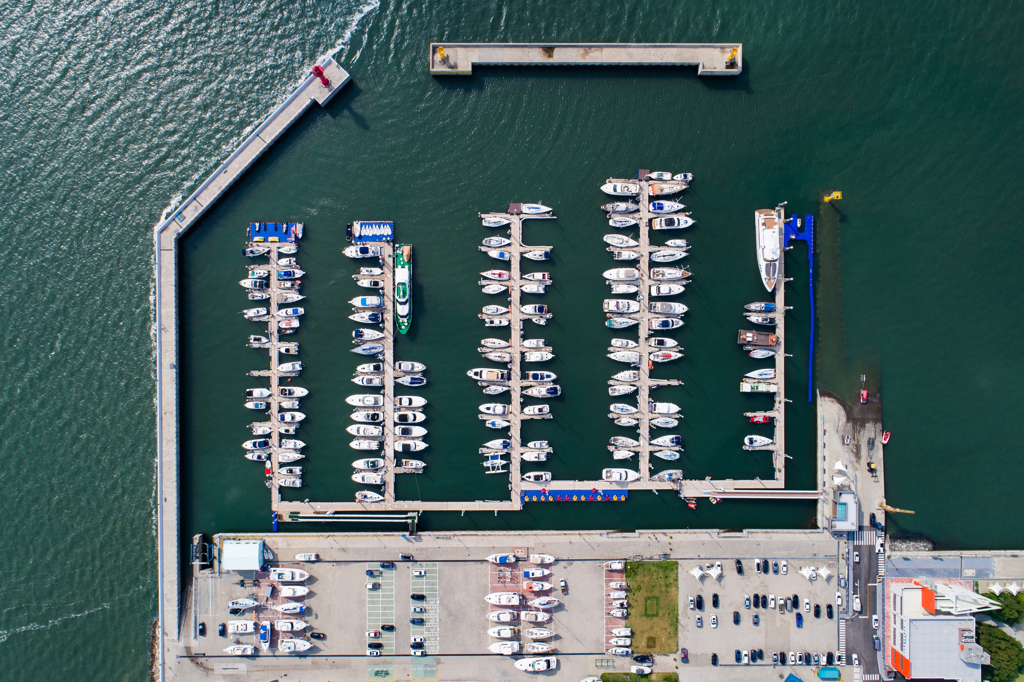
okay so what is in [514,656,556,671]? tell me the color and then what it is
white boat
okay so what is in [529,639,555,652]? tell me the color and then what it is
white boat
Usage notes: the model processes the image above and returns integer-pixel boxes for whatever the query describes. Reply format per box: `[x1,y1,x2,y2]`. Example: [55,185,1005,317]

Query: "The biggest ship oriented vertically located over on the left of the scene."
[389,243,412,334]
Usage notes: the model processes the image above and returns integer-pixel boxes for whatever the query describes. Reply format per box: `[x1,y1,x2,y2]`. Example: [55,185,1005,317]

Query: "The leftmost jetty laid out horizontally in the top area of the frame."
[250,222,298,242]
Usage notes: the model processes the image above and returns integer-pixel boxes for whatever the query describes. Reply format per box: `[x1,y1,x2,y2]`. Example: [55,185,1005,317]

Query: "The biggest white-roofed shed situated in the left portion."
[219,541,263,570]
